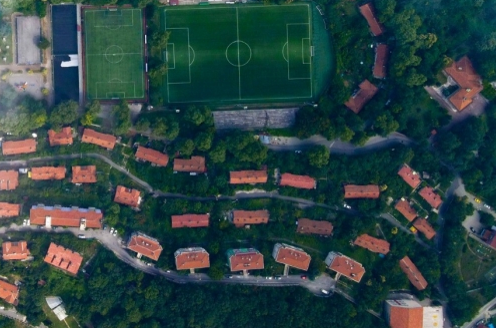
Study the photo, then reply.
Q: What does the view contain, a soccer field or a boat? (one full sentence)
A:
The image shows a soccer field.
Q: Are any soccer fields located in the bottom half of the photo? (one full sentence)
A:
No, there is no soccer field in the bottom half of the photo.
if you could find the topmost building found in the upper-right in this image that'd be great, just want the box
[357,3,382,35]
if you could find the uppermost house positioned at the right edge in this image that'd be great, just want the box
[439,53,484,113]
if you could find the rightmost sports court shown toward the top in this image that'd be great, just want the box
[50,3,84,106]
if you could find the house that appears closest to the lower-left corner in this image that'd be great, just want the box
[0,278,21,304]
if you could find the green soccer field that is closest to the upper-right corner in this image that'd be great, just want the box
[158,0,339,111]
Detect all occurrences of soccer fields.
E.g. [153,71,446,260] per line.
[80,3,150,105]
[158,0,339,111]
